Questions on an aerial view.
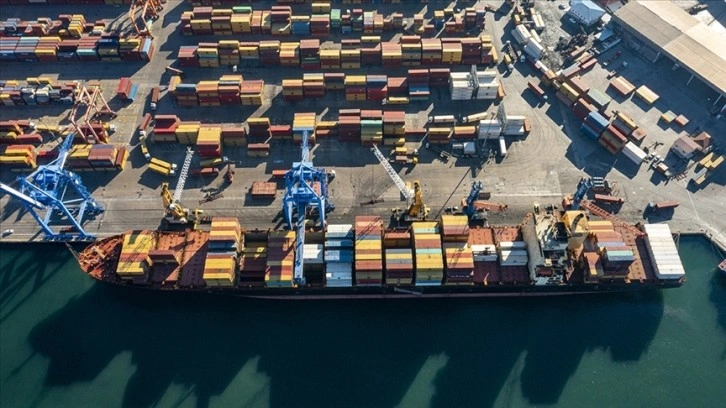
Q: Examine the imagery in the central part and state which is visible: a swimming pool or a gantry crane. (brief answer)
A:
gantry crane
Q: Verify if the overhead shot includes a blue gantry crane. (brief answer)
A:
Yes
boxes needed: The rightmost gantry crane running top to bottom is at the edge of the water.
[281,136,333,285]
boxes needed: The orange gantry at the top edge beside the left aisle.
[125,0,160,37]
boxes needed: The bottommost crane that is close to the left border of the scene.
[0,131,103,237]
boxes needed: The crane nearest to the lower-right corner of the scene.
[557,180,647,248]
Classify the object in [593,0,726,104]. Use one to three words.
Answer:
building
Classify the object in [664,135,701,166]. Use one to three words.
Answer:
building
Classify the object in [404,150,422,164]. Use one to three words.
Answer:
work vehicle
